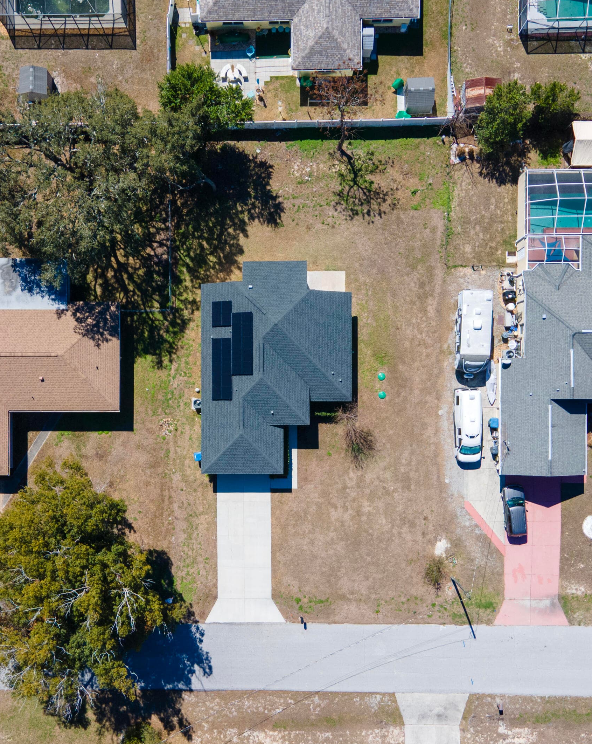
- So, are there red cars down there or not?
No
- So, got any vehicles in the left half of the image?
No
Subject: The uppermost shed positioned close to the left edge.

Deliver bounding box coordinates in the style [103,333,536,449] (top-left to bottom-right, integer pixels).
[19,64,51,100]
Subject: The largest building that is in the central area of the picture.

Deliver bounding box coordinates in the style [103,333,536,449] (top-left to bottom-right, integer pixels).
[200,261,353,475]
